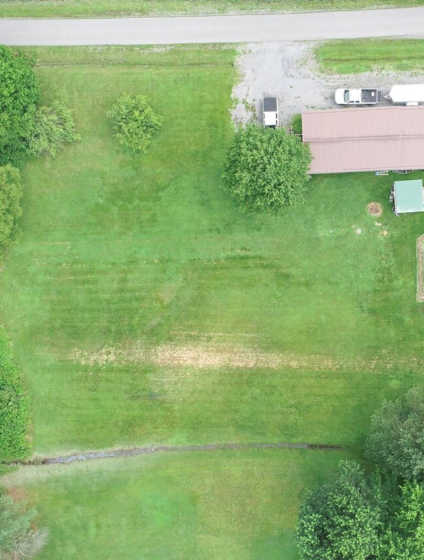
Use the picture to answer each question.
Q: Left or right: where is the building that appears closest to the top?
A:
right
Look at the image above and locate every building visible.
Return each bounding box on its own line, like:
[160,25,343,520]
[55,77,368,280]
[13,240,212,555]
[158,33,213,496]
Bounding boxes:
[302,106,424,175]
[394,179,424,214]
